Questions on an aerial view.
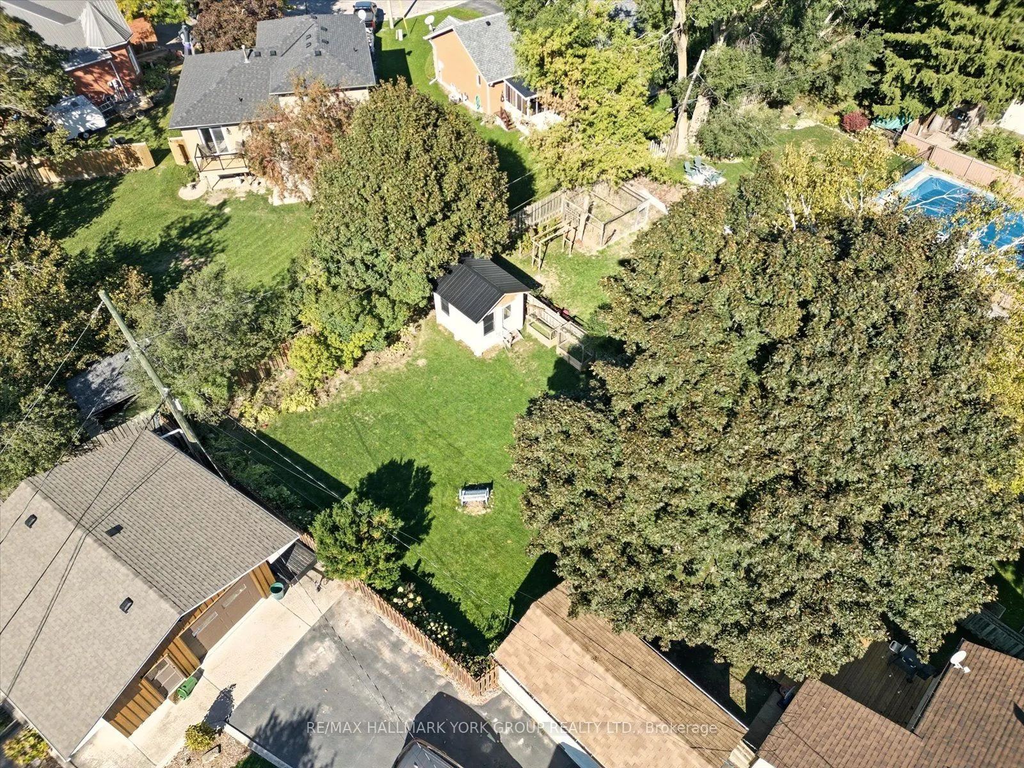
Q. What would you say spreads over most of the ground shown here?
trees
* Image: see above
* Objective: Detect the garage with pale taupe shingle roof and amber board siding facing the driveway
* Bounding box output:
[0,428,302,768]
